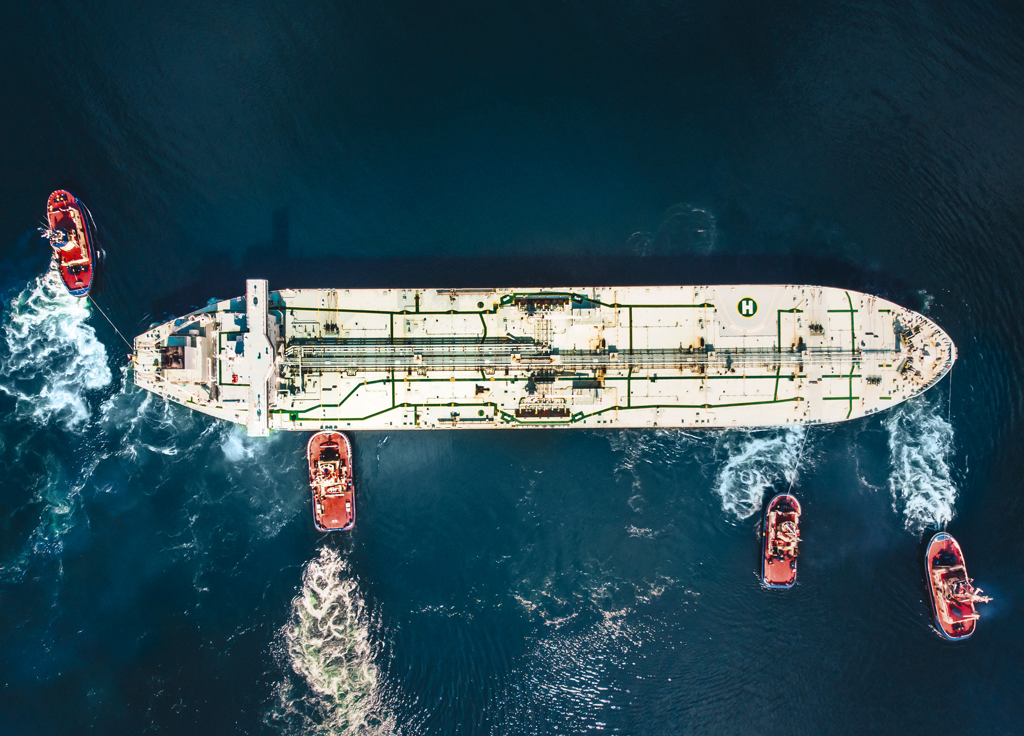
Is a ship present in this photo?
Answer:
Yes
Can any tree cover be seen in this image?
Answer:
No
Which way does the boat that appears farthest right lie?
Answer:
vertically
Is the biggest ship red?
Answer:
No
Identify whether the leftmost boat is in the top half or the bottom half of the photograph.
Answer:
top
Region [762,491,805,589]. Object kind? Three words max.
boat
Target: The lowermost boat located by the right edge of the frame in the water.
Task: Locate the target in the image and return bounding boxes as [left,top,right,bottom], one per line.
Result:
[924,530,986,642]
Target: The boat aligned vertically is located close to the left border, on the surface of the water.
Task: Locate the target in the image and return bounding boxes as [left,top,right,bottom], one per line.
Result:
[31,187,96,299]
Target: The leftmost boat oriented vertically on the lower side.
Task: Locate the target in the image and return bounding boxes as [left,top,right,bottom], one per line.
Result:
[307,430,356,532]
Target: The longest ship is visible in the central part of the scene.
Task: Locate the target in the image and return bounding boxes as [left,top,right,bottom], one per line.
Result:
[122,279,959,436]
